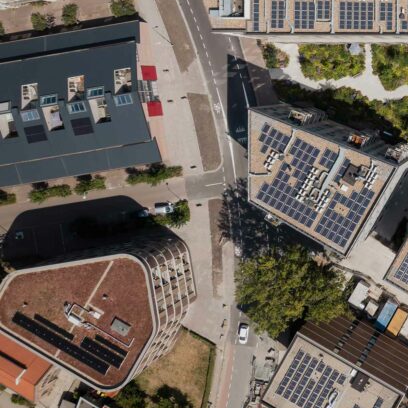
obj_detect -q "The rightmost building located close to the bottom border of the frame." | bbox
[262,299,408,408]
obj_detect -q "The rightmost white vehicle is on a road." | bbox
[237,320,250,342]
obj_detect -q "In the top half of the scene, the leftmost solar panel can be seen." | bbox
[24,125,47,143]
